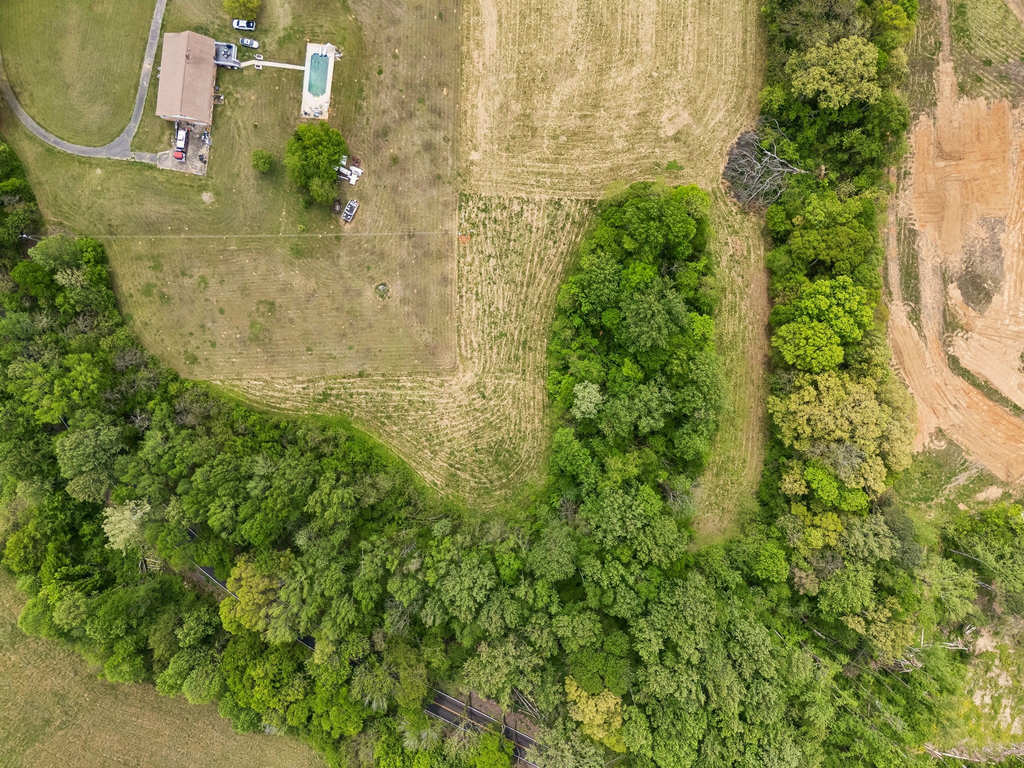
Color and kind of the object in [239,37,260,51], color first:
white car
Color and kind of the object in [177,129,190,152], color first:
white vehicle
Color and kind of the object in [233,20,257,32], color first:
white vehicle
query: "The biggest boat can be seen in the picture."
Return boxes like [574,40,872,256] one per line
[341,200,359,222]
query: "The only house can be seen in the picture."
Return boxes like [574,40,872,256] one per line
[156,32,217,125]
